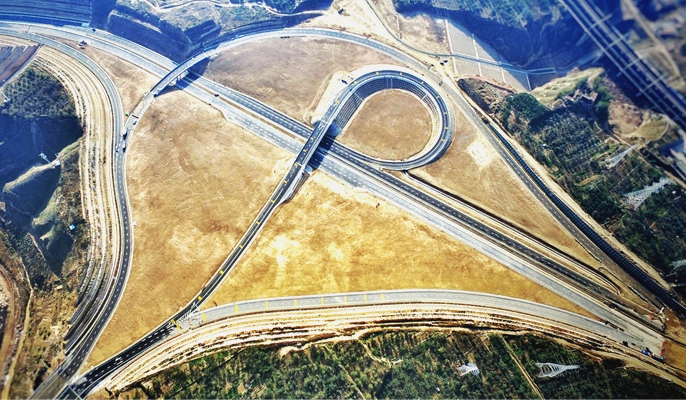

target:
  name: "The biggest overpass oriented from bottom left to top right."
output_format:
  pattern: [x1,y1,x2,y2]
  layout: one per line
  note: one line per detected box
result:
[147,42,230,96]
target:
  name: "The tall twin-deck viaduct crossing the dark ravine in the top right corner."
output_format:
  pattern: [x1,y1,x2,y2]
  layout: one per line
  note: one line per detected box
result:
[555,0,686,144]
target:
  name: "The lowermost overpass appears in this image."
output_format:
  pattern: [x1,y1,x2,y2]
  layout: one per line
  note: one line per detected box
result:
[291,121,328,170]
